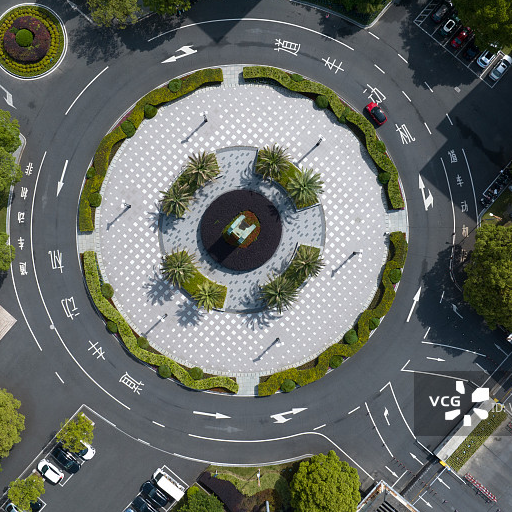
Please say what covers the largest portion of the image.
paved ground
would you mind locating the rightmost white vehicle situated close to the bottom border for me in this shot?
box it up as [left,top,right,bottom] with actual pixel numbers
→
[149,469,188,509]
